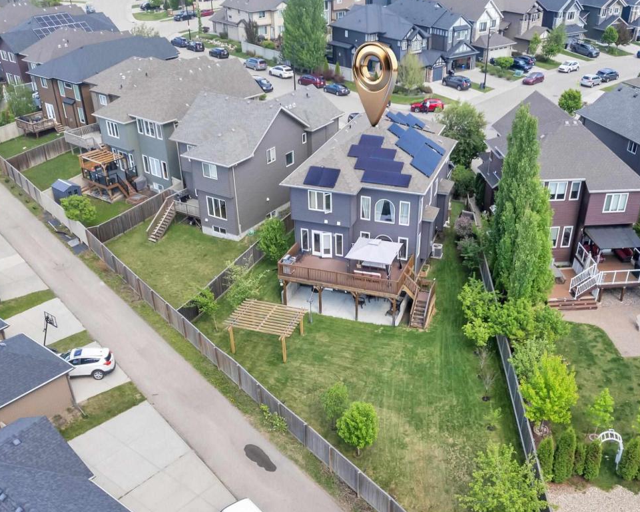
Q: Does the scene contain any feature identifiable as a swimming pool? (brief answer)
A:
No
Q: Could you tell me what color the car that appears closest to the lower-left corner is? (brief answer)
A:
white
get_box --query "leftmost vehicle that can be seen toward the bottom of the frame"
[61,338,119,386]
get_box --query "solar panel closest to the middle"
[304,167,340,188]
